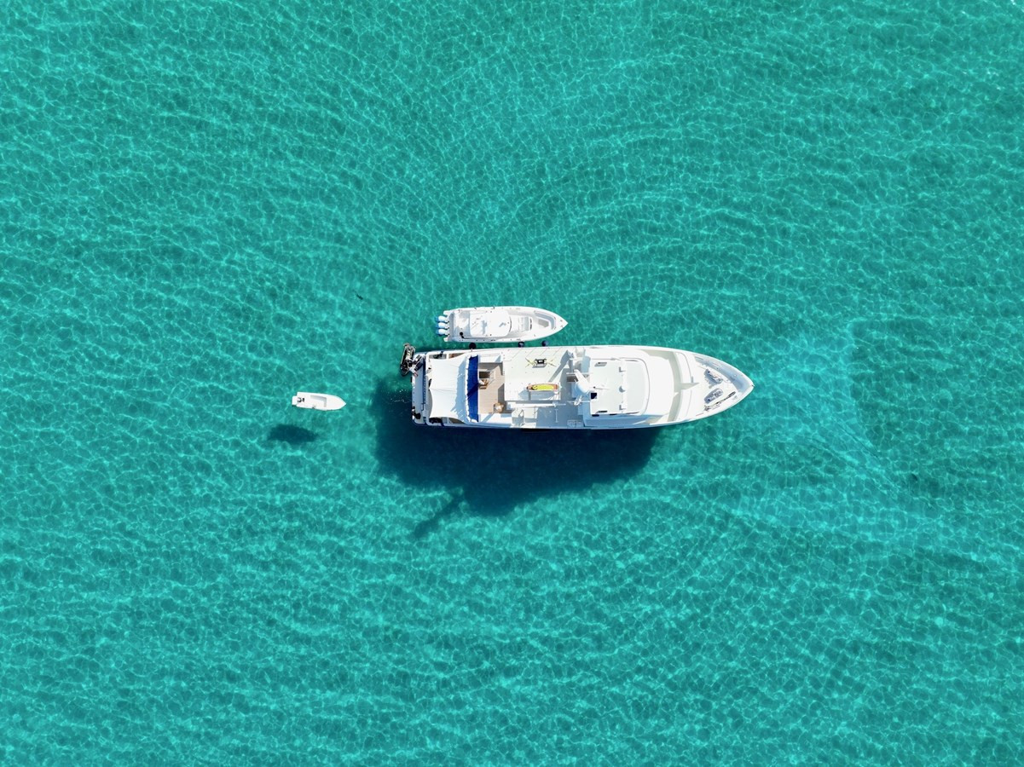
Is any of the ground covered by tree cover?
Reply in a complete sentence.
No, the scene doesn't show any tree cover.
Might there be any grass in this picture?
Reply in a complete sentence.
No, the scene doesn't show any grass.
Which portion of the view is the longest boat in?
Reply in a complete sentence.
Look in the center portion of the view to spot the longest boat.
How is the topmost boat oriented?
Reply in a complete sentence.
From this overhead view, the topmost boat appears to run from left to right.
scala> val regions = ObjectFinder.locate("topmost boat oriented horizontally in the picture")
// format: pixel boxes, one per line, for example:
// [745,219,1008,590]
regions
[436,306,568,343]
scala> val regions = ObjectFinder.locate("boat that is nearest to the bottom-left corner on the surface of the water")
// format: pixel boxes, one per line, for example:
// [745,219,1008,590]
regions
[289,392,347,411]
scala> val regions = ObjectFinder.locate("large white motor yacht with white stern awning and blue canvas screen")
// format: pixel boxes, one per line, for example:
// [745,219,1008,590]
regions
[413,345,754,429]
